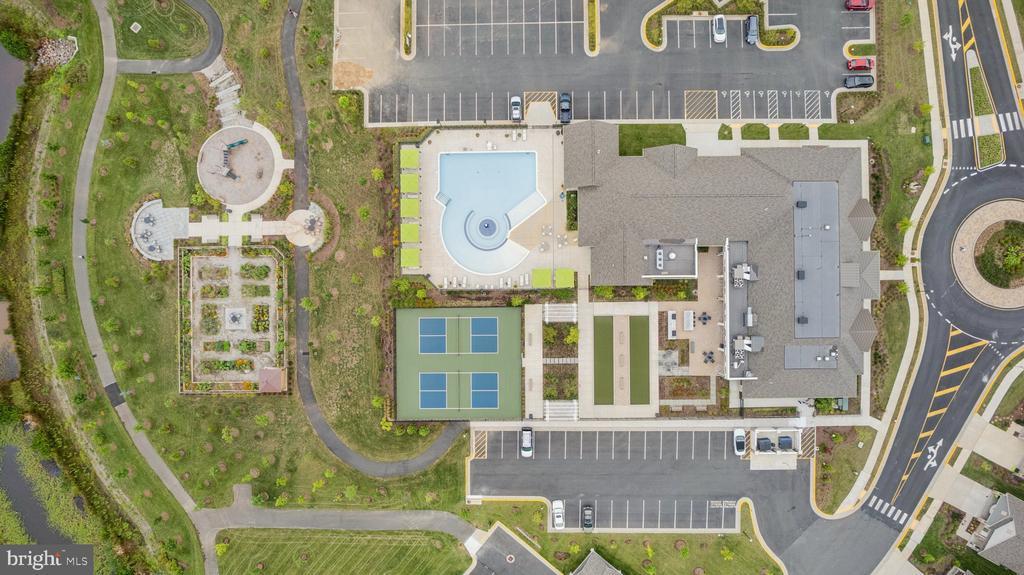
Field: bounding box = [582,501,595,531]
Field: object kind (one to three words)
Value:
vehicle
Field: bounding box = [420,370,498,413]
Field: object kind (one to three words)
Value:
sports court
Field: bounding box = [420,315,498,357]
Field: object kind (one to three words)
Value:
sports court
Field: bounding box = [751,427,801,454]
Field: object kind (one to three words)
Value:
building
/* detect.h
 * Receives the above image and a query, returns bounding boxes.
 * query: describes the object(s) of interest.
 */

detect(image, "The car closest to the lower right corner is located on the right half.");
[732,427,747,456]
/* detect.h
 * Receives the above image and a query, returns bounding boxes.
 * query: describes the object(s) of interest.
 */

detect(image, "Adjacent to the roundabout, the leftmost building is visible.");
[564,121,880,397]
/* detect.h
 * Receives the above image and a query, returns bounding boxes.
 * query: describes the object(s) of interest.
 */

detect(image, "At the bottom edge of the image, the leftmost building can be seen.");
[567,547,625,575]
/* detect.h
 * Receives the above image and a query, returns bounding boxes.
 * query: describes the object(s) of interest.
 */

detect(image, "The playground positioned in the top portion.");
[196,125,278,207]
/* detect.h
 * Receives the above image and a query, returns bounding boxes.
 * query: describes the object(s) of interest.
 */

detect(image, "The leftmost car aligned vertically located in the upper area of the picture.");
[509,96,522,122]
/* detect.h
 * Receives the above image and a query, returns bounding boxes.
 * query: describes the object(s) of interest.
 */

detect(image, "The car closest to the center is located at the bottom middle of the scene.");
[519,426,534,457]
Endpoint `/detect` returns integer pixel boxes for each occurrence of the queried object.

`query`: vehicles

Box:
[582,501,595,531]
[509,96,522,122]
[732,427,747,456]
[842,74,873,89]
[559,92,572,125]
[551,499,565,530]
[712,14,727,45]
[841,0,872,11]
[845,58,873,71]
[519,426,534,457]
[745,14,759,46]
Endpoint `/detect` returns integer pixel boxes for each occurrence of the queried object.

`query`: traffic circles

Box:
[924,170,1024,338]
